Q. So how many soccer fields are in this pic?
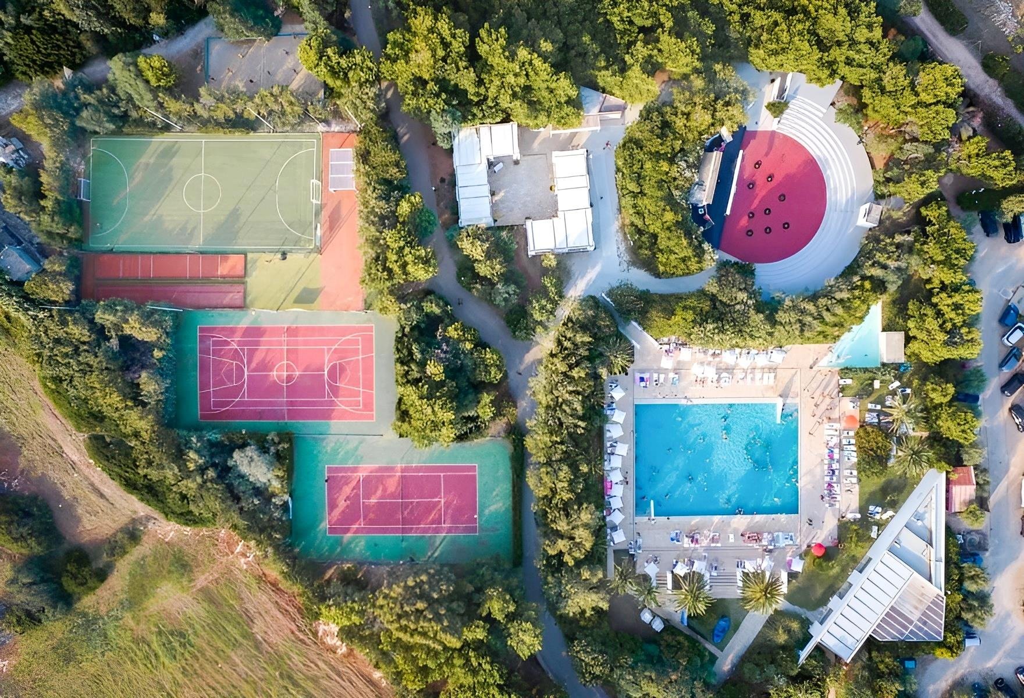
1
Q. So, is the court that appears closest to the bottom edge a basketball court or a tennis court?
tennis court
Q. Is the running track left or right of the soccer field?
to its right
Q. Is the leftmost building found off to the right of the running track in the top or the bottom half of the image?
top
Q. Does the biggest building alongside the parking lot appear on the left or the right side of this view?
right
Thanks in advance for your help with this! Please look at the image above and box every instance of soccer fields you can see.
[83,132,320,252]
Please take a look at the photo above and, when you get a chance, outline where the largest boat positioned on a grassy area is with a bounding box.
[715,618,730,644]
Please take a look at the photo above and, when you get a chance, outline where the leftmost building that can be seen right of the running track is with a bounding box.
[454,123,520,228]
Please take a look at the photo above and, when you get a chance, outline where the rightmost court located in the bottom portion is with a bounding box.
[291,435,514,563]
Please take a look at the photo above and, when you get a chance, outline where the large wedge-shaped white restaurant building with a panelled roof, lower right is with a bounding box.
[797,467,945,665]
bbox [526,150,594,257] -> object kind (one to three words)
building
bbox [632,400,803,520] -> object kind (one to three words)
swimming pool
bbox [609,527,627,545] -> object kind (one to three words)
umbrella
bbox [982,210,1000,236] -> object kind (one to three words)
car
